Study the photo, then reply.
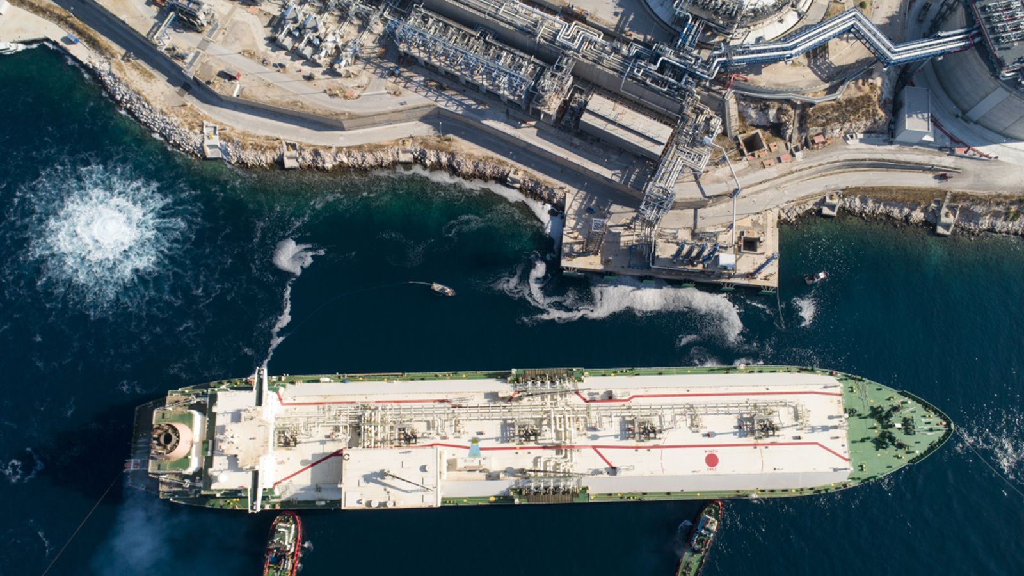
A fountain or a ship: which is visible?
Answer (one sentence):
There is a ship in the scene.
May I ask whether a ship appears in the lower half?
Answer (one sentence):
Yes, a ship shows up in the lower half.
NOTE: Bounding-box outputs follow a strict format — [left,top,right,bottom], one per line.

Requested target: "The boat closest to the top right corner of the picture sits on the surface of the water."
[803,271,828,285]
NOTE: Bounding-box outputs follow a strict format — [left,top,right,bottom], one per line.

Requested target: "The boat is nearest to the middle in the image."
[410,281,456,296]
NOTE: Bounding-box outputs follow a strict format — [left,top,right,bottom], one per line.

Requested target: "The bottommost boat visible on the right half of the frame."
[671,500,726,576]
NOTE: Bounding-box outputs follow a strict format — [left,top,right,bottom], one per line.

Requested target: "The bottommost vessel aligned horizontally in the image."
[123,363,957,513]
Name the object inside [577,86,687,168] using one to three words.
building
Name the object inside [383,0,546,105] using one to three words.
building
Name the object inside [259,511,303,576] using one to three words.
boat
